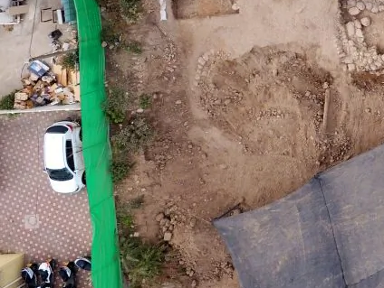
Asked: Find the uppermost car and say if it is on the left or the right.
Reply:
left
